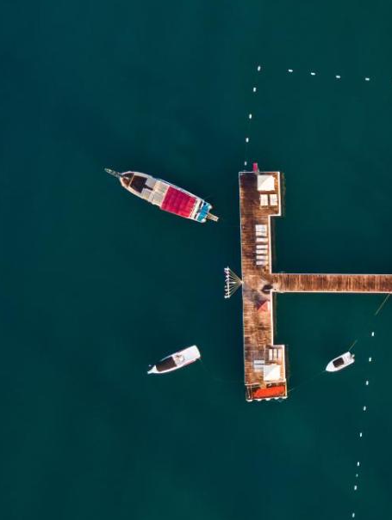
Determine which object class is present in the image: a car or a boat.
boat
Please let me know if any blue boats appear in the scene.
No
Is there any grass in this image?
No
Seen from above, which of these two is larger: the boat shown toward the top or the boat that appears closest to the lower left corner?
the boat shown toward the top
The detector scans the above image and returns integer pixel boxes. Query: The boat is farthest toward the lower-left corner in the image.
[144,345,201,375]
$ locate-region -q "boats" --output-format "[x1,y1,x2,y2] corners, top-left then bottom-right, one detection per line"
[144,345,201,375]
[106,169,219,224]
[325,353,356,372]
